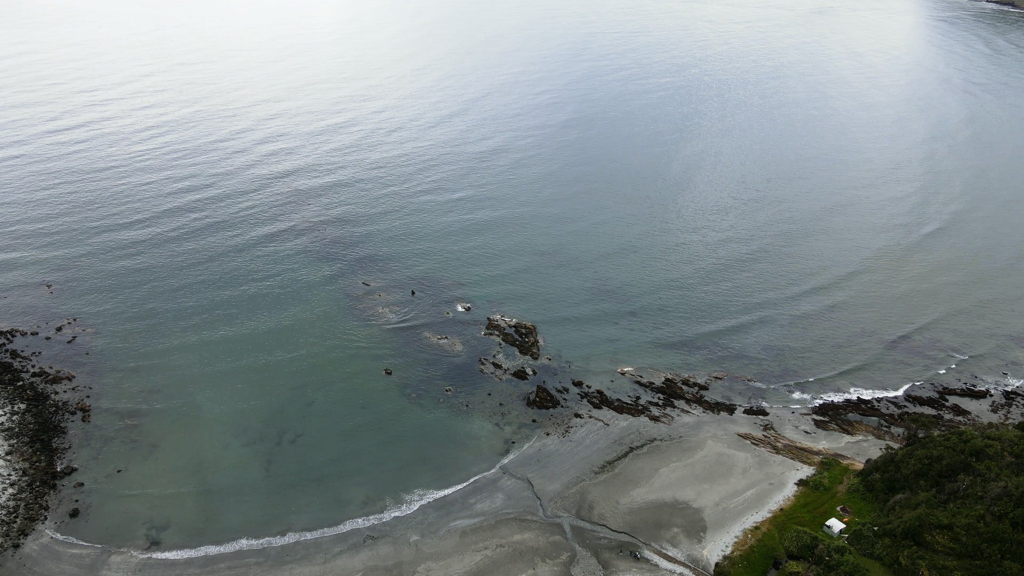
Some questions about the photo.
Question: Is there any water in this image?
Yes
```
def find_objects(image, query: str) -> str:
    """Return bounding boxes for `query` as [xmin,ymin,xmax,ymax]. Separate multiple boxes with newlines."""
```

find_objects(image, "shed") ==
[823,516,846,539]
